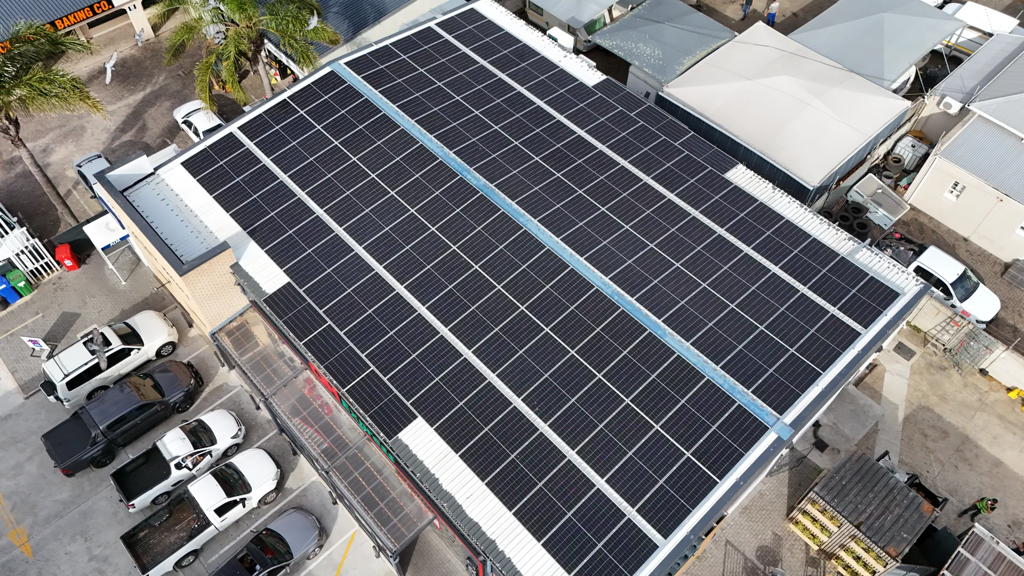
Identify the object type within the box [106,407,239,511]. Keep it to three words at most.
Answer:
vehicle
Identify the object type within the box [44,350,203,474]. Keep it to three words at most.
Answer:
vehicle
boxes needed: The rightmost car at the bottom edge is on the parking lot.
[201,509,322,576]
